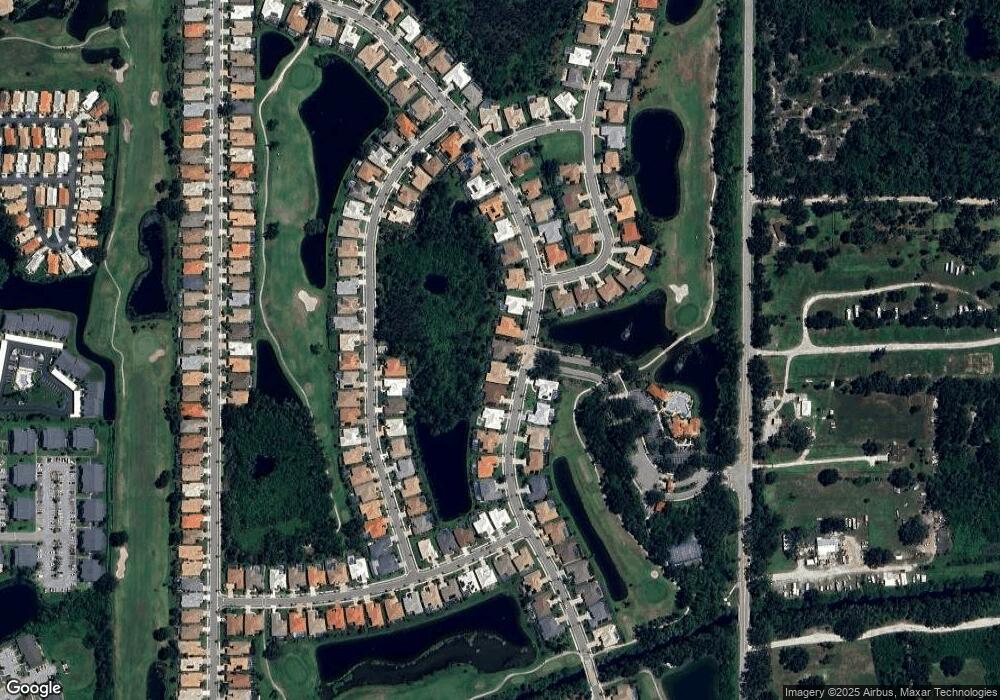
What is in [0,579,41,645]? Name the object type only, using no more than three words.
pond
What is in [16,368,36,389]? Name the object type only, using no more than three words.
swimming pool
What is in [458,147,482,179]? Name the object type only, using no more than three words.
house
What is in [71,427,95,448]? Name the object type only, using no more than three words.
building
